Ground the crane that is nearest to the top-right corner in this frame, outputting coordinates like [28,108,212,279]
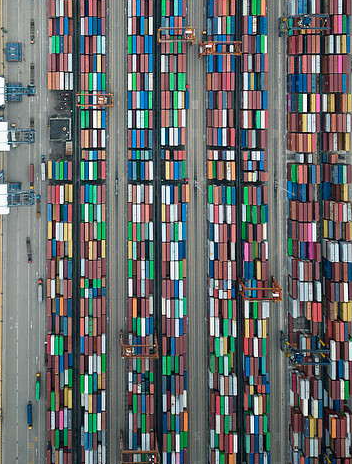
[279,14,329,37]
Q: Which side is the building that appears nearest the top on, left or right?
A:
left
